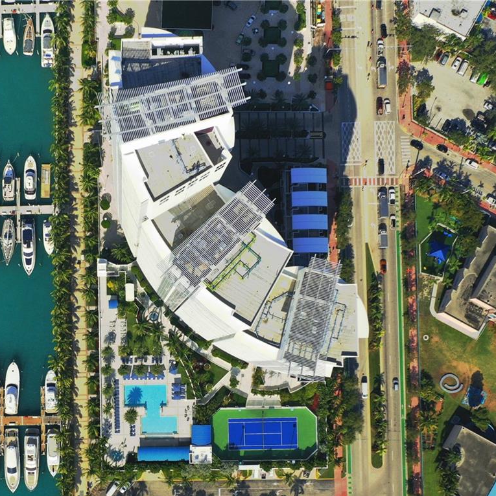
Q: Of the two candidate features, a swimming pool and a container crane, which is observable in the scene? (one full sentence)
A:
I can see a swimming pool in this picture.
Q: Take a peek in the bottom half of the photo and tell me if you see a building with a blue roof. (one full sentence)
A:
Yes, looking in the bottom half of the photo, one can make out a building with a blue roof.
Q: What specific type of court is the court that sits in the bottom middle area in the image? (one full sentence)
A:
The court that sits in the bottom middle area can be classified as a tennis court.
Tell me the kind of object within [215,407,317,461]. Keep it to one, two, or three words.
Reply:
tennis court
